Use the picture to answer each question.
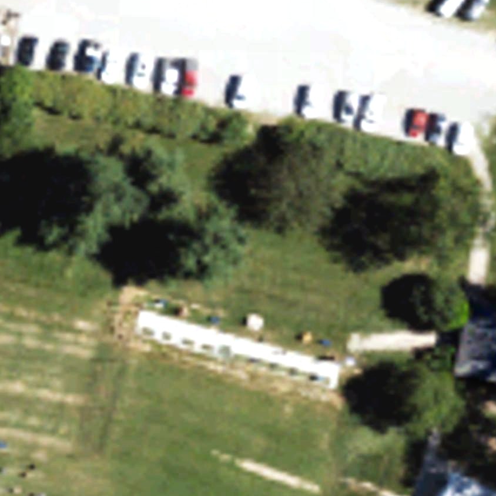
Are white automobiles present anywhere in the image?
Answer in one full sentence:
Yes, the picture does show a white automobile.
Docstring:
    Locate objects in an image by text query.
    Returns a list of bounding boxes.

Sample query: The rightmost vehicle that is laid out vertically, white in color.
[456,123,474,155]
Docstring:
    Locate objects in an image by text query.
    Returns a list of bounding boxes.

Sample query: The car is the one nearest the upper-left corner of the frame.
[23,36,39,67]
